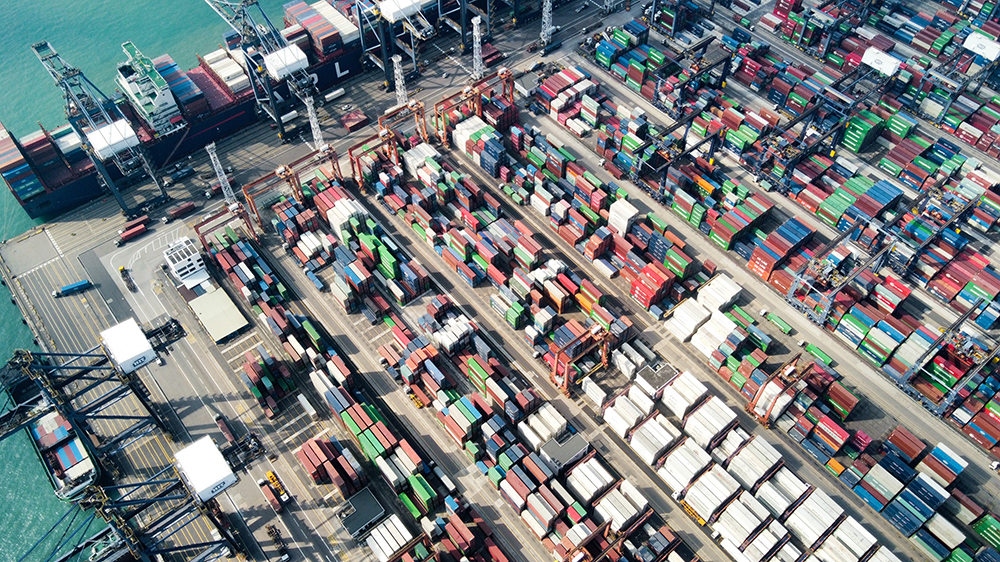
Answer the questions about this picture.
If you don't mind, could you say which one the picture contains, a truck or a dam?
truck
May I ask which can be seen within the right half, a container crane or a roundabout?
container crane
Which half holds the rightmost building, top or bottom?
bottom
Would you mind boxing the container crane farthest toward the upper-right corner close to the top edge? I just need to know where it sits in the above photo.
[941,1,1000,73]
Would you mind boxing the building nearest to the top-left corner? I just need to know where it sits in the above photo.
[161,236,206,282]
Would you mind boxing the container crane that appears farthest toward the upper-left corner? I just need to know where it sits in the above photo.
[28,42,178,222]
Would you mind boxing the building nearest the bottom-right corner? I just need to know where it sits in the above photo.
[636,364,680,396]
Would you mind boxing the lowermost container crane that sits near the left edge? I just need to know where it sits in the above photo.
[4,429,267,562]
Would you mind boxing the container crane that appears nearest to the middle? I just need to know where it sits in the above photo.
[550,321,612,393]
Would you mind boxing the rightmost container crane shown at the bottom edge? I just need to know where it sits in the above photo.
[561,510,632,562]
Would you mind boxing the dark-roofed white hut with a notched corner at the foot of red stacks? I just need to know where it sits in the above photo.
[342,487,386,540]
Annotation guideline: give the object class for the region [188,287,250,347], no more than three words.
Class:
building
